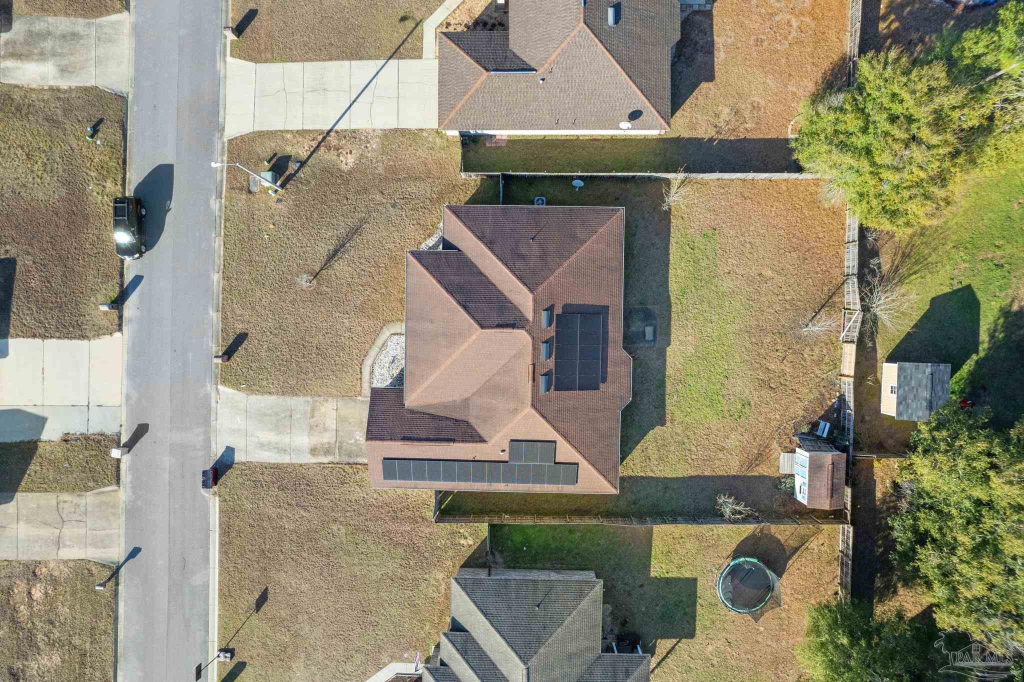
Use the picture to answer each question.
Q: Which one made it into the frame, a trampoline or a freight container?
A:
trampoline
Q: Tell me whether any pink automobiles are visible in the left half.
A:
No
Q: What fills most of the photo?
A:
grass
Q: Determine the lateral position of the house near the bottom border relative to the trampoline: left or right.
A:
to the left of it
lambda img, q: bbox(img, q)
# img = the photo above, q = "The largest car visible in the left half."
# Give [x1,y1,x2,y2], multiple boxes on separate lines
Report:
[115,198,150,262]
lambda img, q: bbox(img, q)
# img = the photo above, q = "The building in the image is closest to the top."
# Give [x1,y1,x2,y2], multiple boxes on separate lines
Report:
[437,0,681,136]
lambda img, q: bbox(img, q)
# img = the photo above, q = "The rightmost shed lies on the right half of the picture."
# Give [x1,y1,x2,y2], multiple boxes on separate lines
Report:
[882,363,951,421]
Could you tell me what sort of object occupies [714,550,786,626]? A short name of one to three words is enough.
trampoline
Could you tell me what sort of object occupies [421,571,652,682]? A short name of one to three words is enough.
house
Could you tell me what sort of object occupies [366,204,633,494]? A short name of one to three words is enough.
house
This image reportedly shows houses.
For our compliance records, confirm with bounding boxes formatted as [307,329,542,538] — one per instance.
[366,204,633,494]
[421,571,652,682]
[437,0,681,136]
